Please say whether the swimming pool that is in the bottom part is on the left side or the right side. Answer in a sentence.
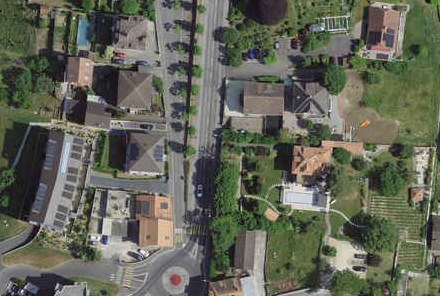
You can find the swimming pool that is in the bottom part on the right side of the picture.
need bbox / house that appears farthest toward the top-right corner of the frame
[366,8,400,52]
